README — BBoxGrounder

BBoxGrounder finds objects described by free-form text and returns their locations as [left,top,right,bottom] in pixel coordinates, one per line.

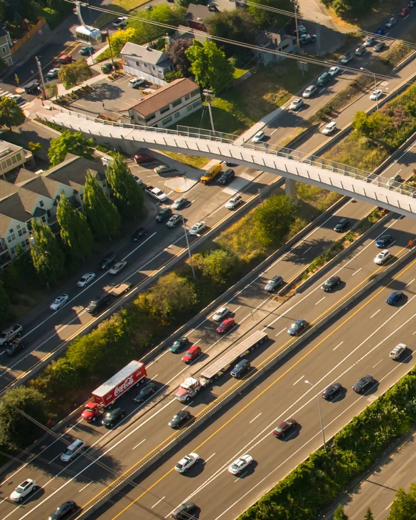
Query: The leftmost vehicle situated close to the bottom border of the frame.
[10,478,37,503]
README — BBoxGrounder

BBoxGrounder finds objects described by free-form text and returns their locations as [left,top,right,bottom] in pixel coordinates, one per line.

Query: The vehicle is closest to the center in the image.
[189,222,205,236]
